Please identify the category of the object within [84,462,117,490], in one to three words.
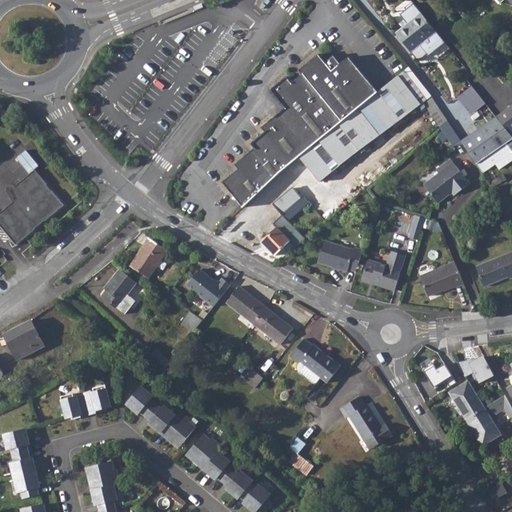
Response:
house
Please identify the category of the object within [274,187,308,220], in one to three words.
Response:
house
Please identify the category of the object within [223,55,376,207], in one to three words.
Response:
building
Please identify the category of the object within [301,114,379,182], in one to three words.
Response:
building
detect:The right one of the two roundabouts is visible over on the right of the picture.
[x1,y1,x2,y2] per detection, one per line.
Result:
[366,309,416,358]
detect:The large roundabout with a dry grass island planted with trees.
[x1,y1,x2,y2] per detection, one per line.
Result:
[0,0,86,96]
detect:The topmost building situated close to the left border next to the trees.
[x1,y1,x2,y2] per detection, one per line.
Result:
[0,150,63,244]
